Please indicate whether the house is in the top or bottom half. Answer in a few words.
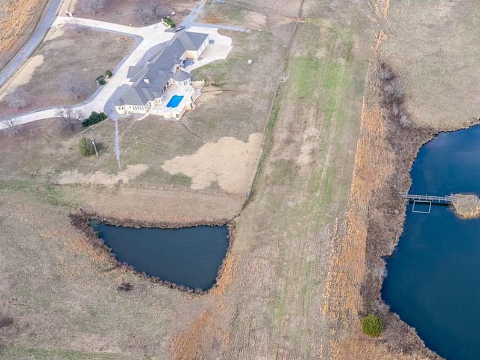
top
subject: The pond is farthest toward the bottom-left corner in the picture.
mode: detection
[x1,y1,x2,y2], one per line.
[94,221,230,291]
